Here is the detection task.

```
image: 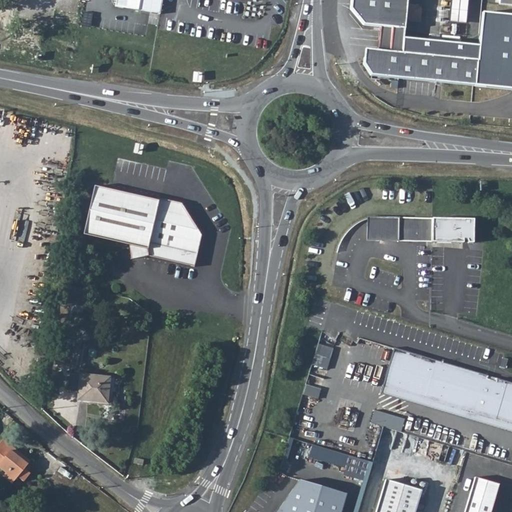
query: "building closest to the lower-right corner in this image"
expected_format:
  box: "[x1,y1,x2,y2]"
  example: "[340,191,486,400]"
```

[465,476,501,512]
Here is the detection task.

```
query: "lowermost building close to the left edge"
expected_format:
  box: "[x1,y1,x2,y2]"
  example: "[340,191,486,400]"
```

[0,431,31,482]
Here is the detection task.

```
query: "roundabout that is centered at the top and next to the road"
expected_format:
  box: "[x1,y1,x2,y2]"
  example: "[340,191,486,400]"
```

[236,72,354,190]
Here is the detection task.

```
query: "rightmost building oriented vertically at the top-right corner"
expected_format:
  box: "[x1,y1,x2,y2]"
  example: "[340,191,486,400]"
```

[473,11,512,92]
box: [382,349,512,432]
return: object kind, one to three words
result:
building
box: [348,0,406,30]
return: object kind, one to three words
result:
building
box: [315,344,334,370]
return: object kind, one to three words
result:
shed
